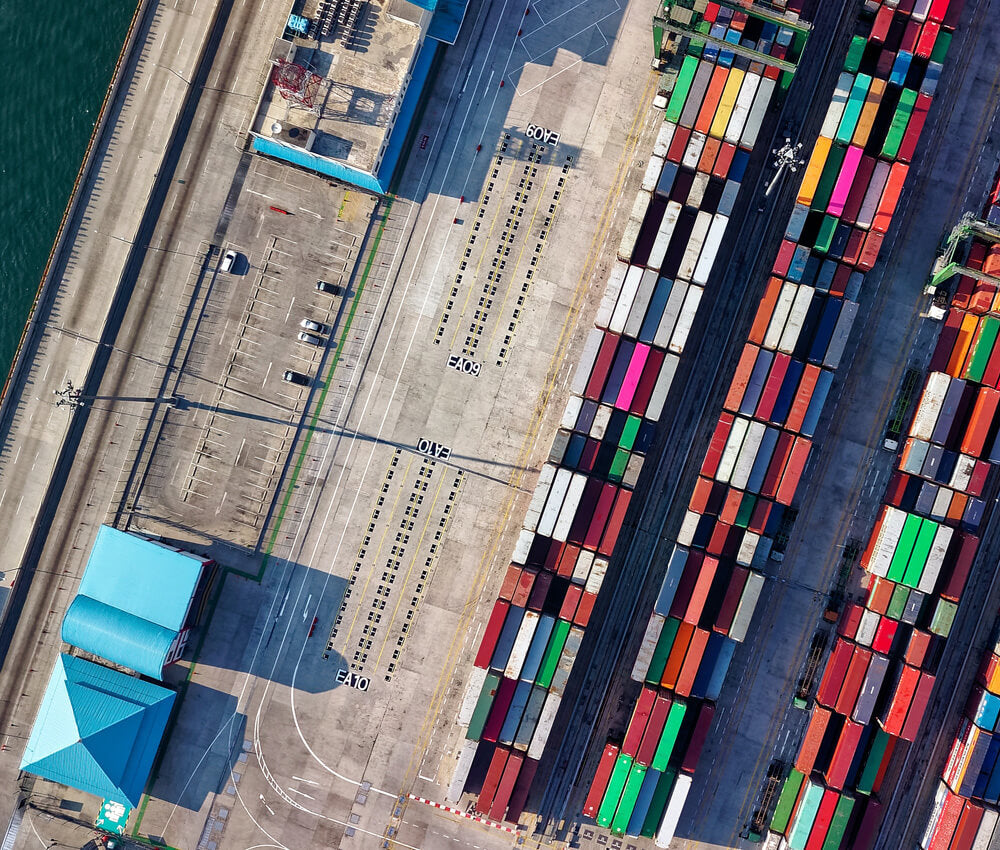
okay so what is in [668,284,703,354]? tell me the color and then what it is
white shipping container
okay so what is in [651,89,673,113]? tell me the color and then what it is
white truck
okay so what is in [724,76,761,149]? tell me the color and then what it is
white shipping container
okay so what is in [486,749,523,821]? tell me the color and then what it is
red shipping container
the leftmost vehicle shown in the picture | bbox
[220,249,237,275]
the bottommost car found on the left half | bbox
[283,370,309,386]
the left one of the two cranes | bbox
[648,0,816,108]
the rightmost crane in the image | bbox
[922,220,1000,290]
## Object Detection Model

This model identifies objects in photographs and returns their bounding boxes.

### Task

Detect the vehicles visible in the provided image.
[879,373,919,452]
[220,249,237,275]
[316,280,341,296]
[298,331,322,347]
[791,630,830,709]
[301,319,325,334]
[651,89,673,113]
[820,544,859,623]
[743,764,782,843]
[283,370,309,386]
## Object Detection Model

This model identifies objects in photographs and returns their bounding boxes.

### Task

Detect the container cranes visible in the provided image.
[922,220,1000,290]
[648,0,816,108]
